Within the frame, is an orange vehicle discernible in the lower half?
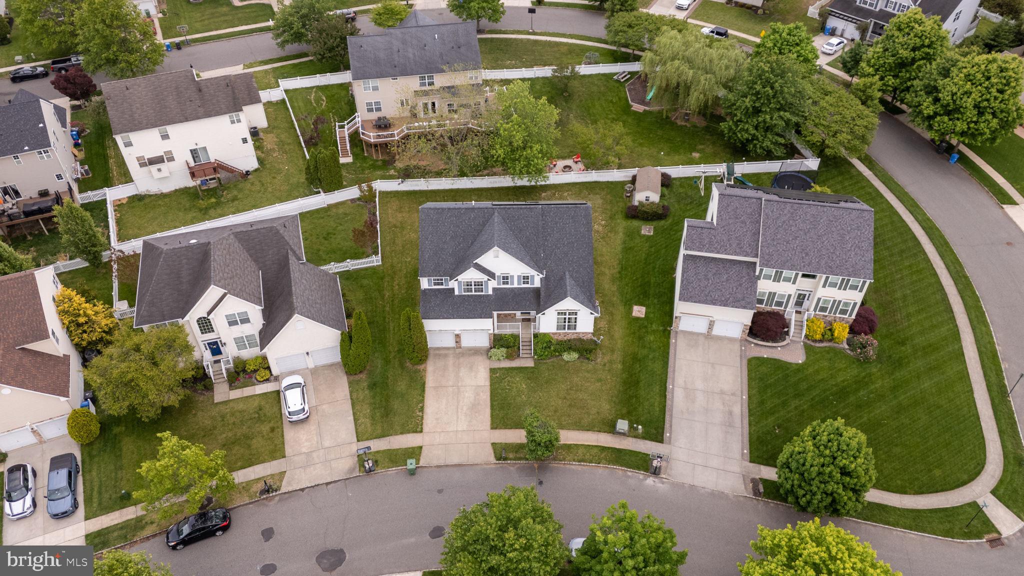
No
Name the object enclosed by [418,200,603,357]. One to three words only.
house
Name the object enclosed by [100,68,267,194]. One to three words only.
house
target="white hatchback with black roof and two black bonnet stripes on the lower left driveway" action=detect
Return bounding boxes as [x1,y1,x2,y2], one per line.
[0,463,34,519]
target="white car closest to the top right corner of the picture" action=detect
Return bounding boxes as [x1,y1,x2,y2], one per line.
[824,37,848,53]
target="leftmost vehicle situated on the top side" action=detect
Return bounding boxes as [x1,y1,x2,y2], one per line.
[9,66,47,80]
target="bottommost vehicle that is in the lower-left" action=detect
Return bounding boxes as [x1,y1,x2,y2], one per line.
[163,508,232,549]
